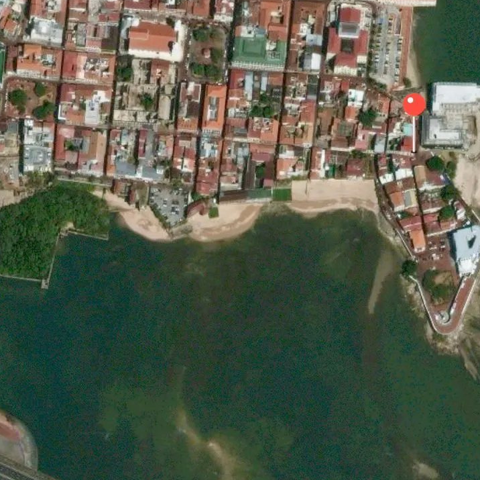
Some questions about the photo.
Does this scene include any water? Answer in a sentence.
Yes, water shows up in the scene.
